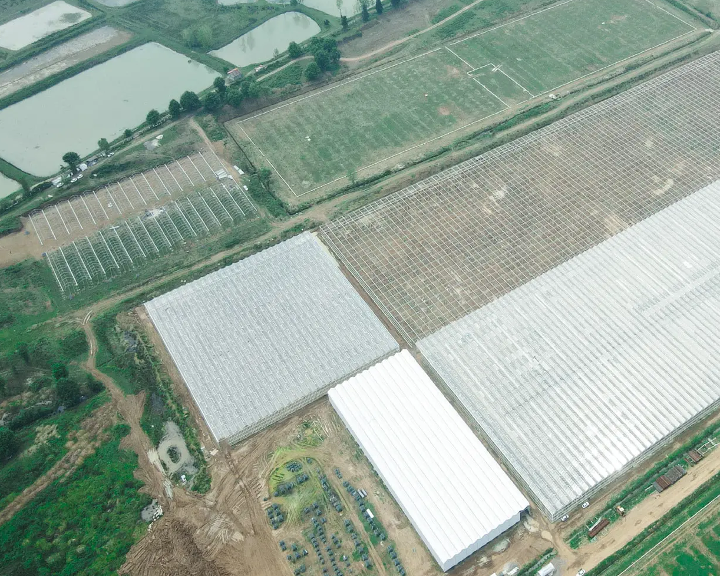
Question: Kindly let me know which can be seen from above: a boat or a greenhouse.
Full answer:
Looking from above, you can make out a greenhouse.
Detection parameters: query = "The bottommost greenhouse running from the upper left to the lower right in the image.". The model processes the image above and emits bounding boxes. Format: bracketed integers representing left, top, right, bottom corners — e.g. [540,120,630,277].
[329,352,530,568]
